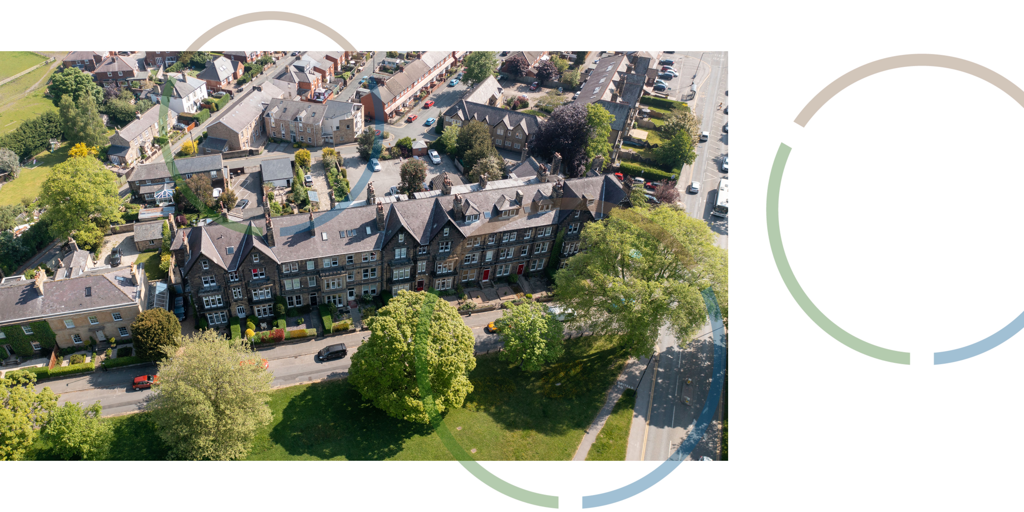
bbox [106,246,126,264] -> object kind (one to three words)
car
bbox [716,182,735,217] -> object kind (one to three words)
vehicle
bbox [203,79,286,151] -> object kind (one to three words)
building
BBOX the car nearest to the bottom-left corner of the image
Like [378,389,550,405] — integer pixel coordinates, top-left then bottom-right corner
[127,372,160,390]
